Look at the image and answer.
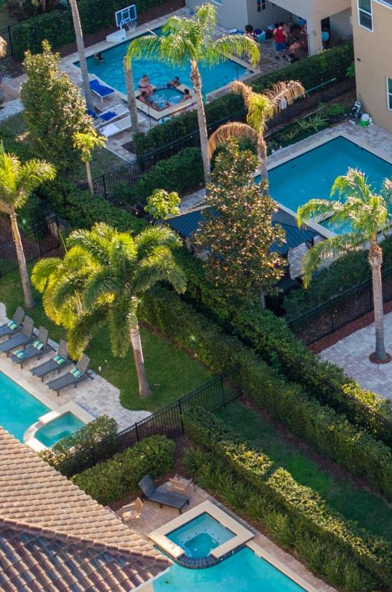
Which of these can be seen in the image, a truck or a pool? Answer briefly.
pool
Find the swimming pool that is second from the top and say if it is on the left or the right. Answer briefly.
right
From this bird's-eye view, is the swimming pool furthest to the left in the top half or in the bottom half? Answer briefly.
bottom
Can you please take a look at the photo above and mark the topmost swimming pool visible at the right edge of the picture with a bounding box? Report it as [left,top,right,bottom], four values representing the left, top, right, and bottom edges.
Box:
[245,129,392,245]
